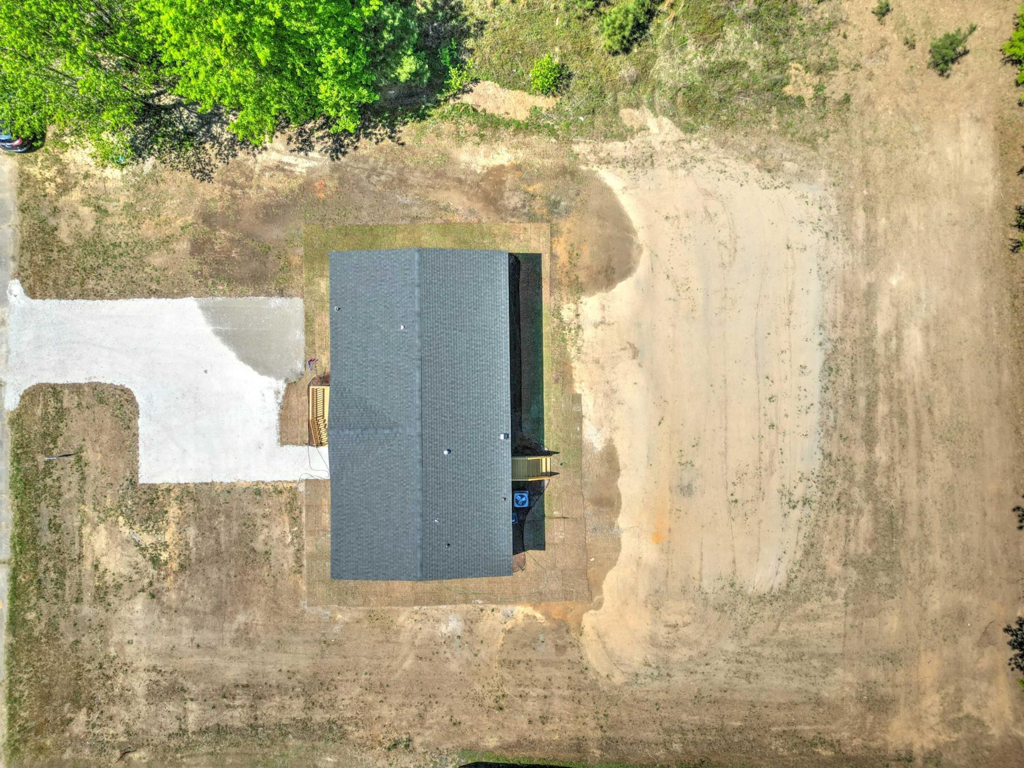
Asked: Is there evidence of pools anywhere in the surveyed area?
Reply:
No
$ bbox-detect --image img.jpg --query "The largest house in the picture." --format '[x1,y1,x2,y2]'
[326,248,512,583]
